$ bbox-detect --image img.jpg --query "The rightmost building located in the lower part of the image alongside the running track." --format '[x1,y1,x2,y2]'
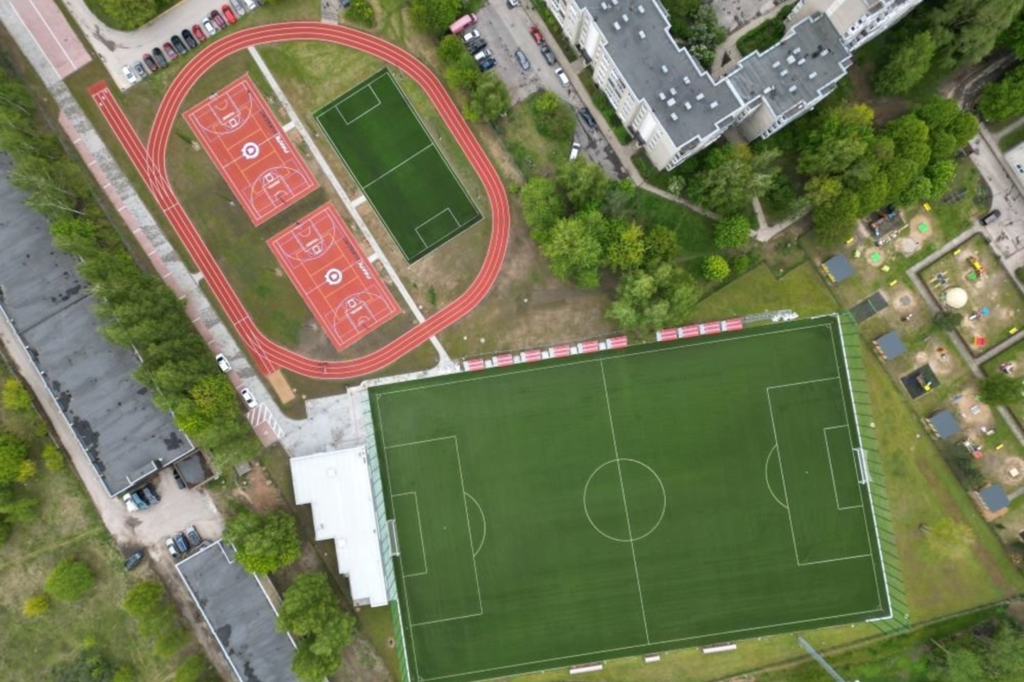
[290,445,391,609]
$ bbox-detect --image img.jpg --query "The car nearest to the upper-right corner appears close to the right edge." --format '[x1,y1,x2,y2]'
[979,209,1001,225]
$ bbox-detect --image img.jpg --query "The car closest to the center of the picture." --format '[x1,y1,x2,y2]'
[569,140,581,162]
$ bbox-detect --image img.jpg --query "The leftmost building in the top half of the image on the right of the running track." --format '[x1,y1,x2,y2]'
[557,0,743,173]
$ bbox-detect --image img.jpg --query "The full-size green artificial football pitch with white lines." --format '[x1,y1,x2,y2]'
[369,316,889,682]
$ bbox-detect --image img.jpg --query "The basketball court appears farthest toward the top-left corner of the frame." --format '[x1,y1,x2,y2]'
[182,74,320,227]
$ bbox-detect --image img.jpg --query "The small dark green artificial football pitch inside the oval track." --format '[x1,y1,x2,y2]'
[312,66,484,264]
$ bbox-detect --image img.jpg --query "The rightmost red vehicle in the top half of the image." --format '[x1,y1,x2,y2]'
[529,27,544,45]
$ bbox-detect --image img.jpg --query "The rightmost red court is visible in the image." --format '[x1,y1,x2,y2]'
[267,201,402,353]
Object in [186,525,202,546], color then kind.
gray car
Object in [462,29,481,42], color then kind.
white vehicle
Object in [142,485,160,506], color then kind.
gray car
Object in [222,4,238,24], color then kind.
red car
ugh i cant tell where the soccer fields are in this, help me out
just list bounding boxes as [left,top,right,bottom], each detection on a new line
[312,66,484,264]
[369,316,889,682]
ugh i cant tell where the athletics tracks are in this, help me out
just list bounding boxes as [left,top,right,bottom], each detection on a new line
[88,21,510,379]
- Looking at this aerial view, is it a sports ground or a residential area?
sports ground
